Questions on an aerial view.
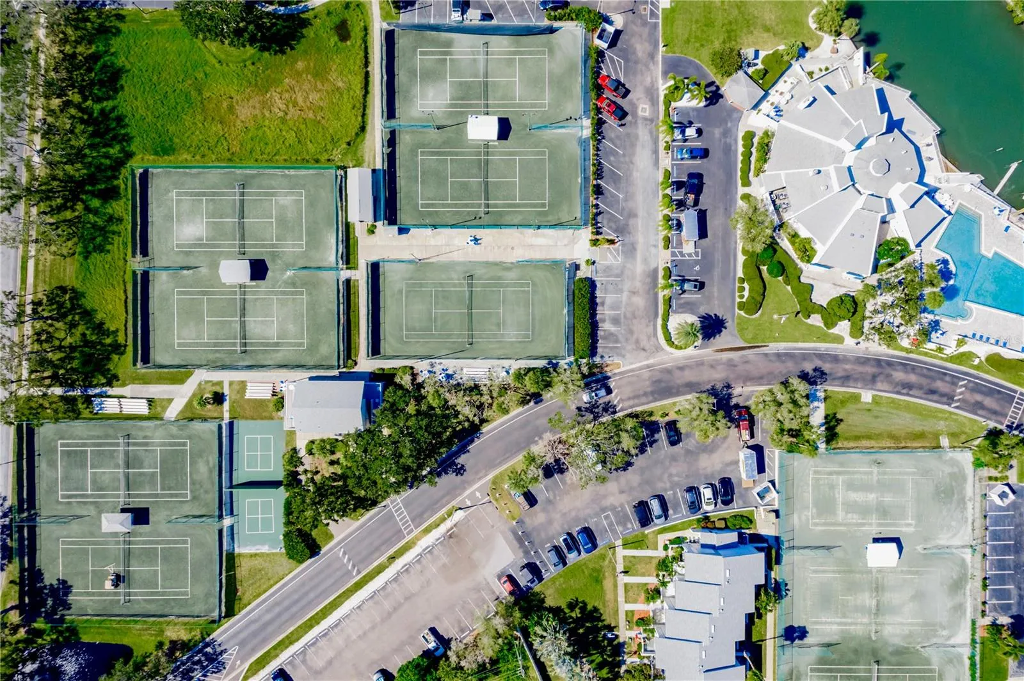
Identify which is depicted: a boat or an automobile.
automobile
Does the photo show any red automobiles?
Yes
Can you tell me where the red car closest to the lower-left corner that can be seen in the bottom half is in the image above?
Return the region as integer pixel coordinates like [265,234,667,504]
[498,573,517,596]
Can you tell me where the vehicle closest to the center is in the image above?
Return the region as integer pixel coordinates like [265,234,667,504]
[581,385,610,403]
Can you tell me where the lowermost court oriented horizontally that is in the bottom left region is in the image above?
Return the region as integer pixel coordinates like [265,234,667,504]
[25,519,223,616]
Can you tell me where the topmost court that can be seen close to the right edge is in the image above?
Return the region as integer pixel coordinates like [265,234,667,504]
[782,450,974,549]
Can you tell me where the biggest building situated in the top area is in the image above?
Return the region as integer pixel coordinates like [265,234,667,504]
[752,47,947,279]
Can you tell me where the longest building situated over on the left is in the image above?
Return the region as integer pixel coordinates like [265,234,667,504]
[282,382,387,432]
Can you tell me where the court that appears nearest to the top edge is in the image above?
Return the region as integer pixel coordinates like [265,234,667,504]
[385,32,581,128]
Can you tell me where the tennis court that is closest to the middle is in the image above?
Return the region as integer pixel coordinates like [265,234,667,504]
[370,261,564,359]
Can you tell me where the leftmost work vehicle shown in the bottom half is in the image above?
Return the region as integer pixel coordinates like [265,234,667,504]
[107,567,121,586]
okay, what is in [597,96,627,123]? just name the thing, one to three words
truck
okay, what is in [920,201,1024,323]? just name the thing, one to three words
swimming pool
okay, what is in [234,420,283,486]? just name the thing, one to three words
tennis court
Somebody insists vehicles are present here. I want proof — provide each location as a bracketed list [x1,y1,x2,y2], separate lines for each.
[468,9,481,22]
[684,173,700,208]
[701,484,715,510]
[560,533,577,558]
[512,490,532,514]
[676,281,700,291]
[518,564,538,586]
[674,127,699,139]
[685,487,700,514]
[719,478,734,505]
[107,567,121,586]
[576,527,593,553]
[419,628,445,657]
[581,385,610,403]
[649,496,665,523]
[635,501,649,527]
[450,0,462,21]
[736,409,752,442]
[666,420,679,446]
[498,573,517,596]
[546,545,564,570]
[597,96,627,123]
[598,73,628,100]
[676,146,704,160]
[374,667,393,681]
